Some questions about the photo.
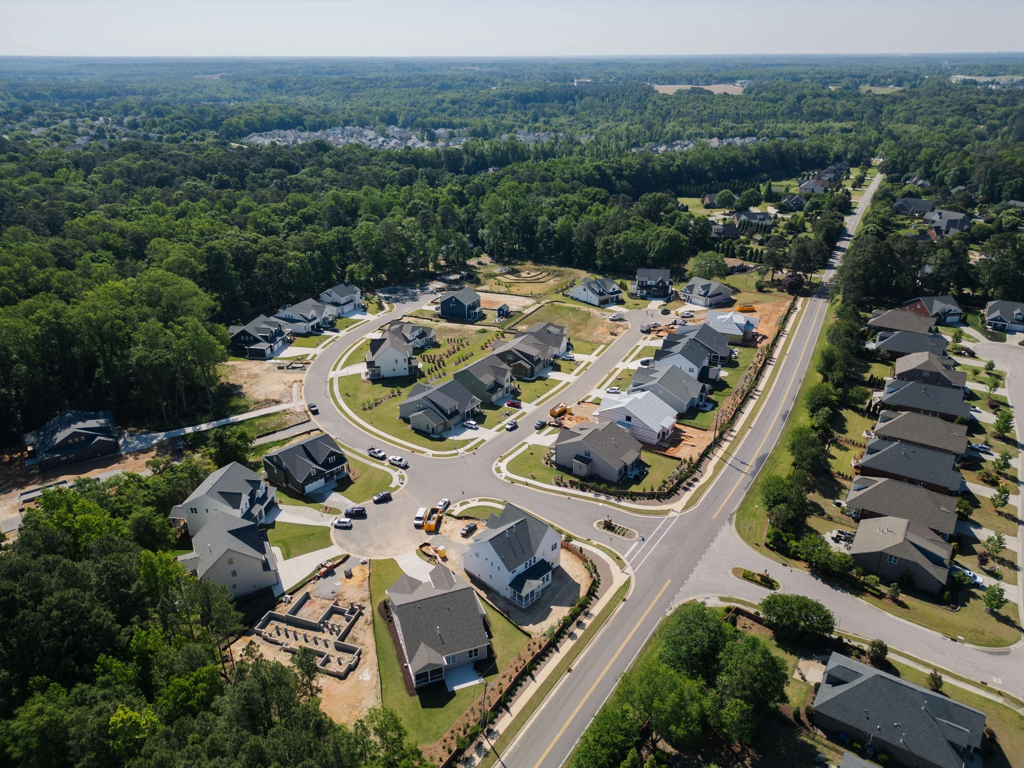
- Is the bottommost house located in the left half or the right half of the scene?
right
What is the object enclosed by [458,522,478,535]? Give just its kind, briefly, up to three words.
vehicle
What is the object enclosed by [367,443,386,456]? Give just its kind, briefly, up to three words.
vehicle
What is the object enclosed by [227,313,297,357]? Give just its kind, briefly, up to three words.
house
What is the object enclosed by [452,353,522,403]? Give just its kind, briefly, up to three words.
building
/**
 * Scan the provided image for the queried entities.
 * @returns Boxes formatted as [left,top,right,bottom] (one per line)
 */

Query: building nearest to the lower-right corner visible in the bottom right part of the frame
[824,649,1003,768]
